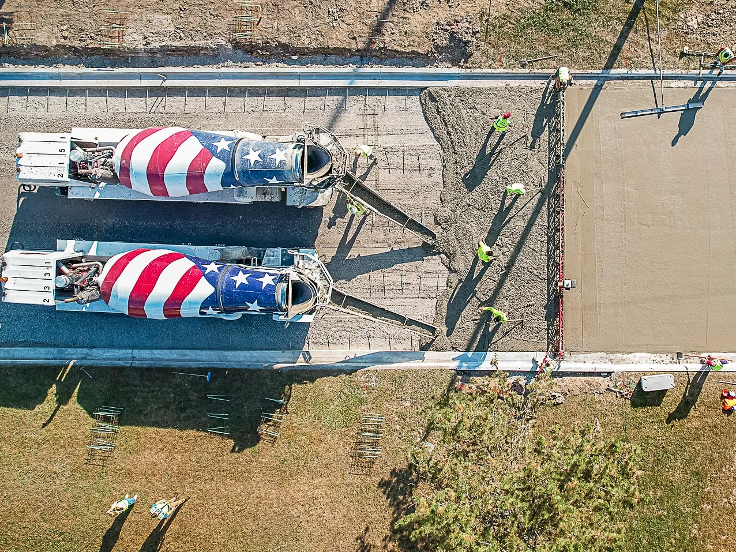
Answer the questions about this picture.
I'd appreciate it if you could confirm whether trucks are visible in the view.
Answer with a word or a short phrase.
Yes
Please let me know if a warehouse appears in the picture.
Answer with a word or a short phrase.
No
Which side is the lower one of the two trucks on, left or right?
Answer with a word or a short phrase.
left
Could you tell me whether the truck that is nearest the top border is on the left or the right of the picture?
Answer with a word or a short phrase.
left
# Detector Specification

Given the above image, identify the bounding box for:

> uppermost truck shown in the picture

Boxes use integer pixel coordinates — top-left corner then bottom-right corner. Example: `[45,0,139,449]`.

[16,127,441,251]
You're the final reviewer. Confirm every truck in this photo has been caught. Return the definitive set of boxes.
[1,237,441,344]
[16,127,441,251]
